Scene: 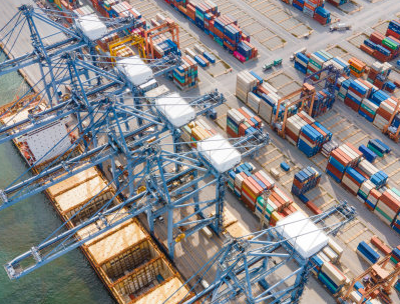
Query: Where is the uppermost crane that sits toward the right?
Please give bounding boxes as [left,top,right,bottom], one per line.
[291,66,334,113]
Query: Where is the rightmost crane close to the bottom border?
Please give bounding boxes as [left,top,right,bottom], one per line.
[329,253,392,304]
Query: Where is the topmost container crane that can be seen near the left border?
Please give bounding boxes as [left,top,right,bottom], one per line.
[0,0,141,107]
